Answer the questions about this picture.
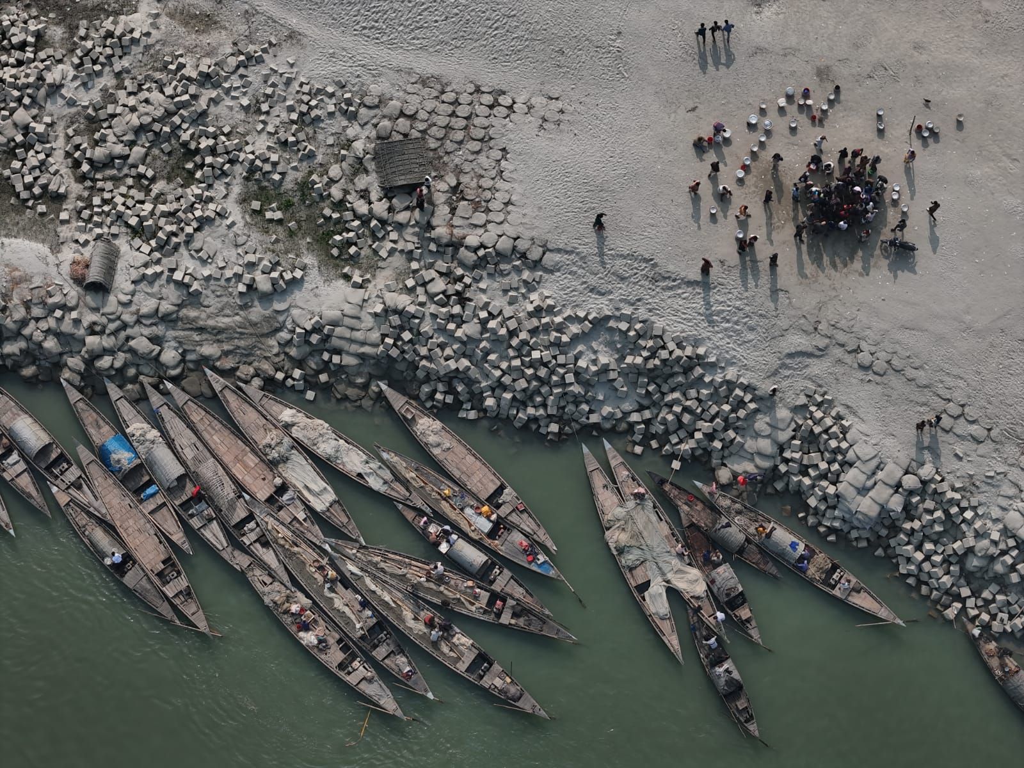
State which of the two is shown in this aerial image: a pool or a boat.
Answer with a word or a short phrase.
boat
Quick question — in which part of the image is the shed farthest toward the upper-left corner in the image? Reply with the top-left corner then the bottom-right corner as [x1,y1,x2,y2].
[79,238,123,288]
